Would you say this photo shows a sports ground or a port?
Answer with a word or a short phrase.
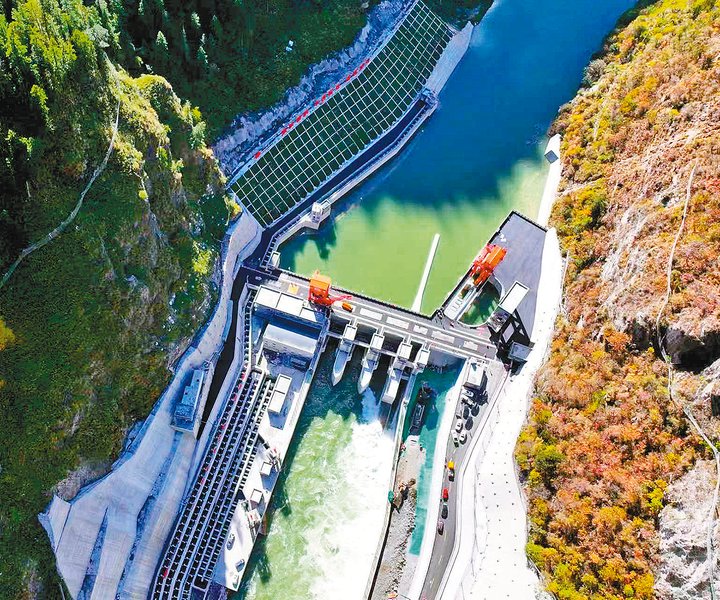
port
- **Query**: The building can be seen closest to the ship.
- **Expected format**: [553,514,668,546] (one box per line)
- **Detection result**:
[463,359,487,389]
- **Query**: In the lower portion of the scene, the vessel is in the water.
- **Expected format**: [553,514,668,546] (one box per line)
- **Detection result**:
[409,400,425,435]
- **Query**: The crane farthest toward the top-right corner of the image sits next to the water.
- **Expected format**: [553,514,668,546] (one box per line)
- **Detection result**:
[467,243,508,290]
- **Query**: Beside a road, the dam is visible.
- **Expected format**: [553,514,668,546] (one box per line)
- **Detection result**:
[240,263,500,600]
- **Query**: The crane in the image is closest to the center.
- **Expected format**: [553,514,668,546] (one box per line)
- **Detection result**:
[304,268,356,311]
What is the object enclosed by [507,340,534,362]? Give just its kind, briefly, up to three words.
building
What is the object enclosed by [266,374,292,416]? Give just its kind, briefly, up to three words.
building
